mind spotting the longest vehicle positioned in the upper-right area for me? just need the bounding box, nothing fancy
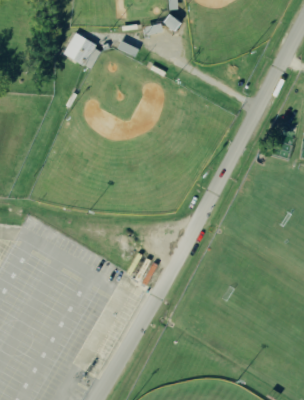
[271,78,284,98]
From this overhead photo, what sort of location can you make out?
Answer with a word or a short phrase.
sports ground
